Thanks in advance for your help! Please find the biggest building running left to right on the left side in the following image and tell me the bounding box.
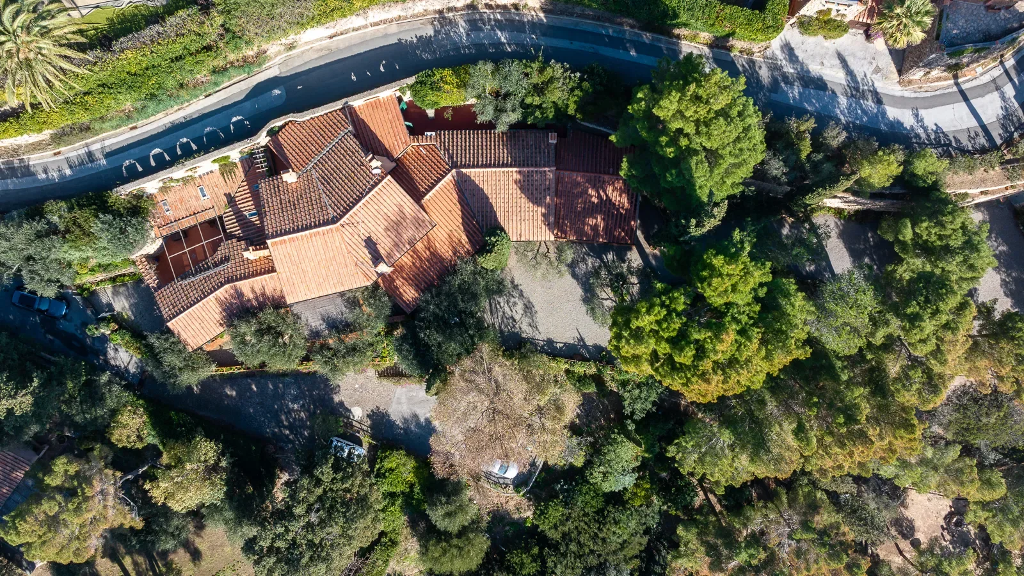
[133,94,640,350]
